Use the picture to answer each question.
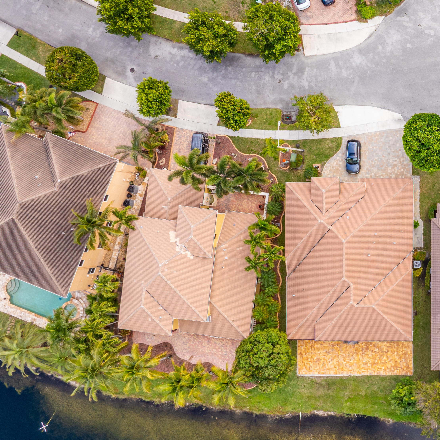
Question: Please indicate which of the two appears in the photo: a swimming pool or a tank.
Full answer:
The one in the frame is a swimming pool.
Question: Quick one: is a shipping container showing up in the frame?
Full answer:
No, no shipping container can be seen from above.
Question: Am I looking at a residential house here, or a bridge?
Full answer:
Of the two, only a residential house appears.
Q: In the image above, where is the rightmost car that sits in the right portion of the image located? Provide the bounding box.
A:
[344,140,362,174]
